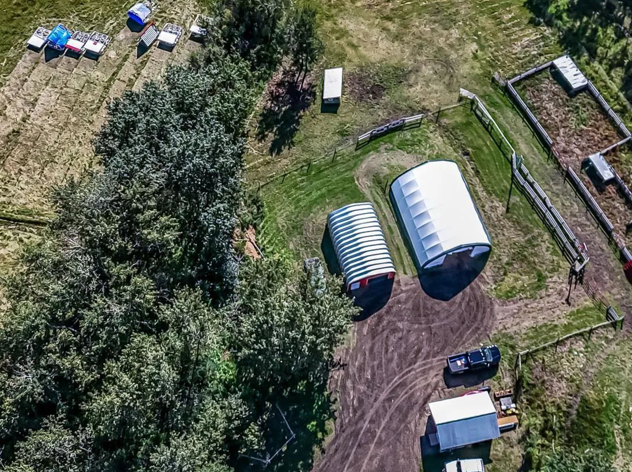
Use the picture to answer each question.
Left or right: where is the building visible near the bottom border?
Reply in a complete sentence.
The building visible near the bottom border sits on the right side.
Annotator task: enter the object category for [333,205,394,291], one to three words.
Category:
shed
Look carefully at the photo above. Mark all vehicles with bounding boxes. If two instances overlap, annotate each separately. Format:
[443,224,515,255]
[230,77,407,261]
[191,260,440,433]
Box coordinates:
[444,347,504,376]
[440,458,487,472]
